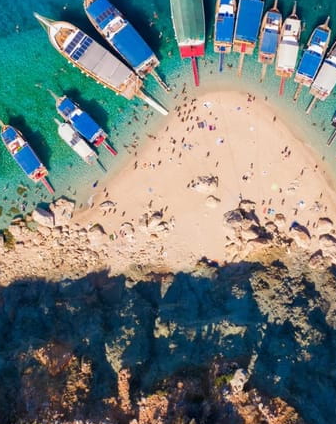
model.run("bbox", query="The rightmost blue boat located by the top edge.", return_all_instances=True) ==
[294,16,331,101]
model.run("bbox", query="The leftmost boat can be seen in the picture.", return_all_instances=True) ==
[0,120,55,194]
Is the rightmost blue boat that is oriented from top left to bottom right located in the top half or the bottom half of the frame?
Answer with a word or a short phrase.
top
